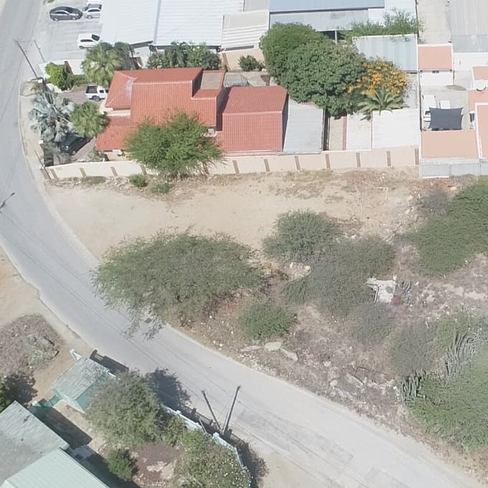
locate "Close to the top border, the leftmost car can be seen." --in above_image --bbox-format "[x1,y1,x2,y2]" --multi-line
[48,4,83,21]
